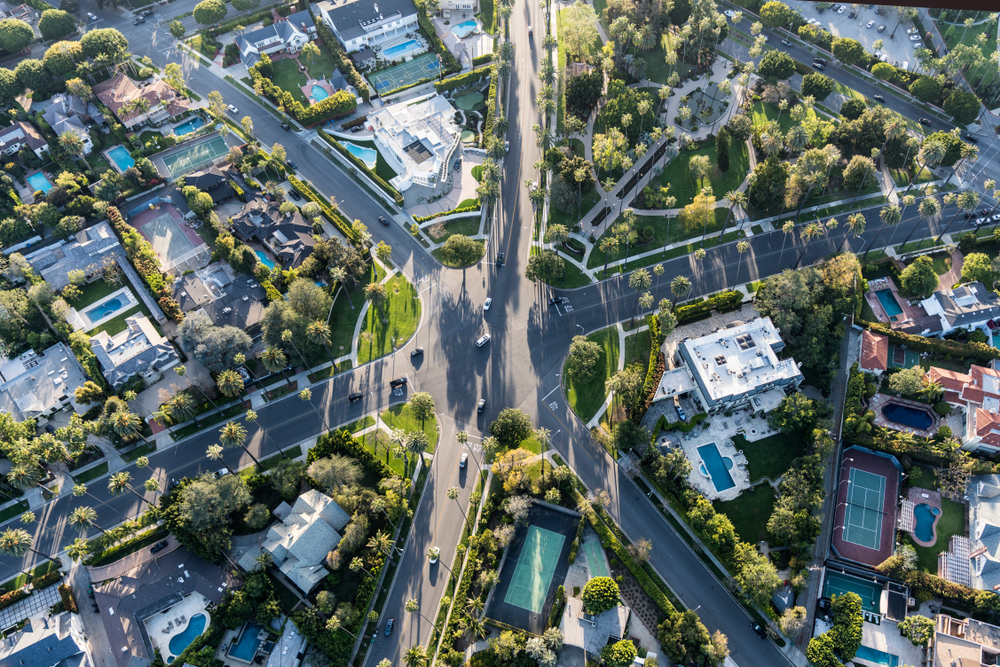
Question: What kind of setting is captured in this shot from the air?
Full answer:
This image shows a residential area.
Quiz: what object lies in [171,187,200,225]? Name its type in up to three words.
building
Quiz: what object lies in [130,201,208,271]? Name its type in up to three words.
tennis court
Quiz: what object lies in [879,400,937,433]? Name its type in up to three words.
swimming pool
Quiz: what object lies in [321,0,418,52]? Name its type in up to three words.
house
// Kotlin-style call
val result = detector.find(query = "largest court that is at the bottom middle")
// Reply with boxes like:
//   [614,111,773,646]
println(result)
[484,498,580,637]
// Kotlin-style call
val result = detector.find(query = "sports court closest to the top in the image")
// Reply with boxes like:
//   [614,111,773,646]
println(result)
[369,52,446,91]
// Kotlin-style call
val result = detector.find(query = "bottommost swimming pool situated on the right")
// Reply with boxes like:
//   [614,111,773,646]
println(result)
[851,644,901,667]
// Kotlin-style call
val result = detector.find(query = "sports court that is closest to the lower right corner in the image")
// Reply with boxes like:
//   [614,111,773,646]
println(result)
[821,567,883,613]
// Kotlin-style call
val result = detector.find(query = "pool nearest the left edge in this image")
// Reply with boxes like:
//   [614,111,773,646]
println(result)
[25,170,51,195]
